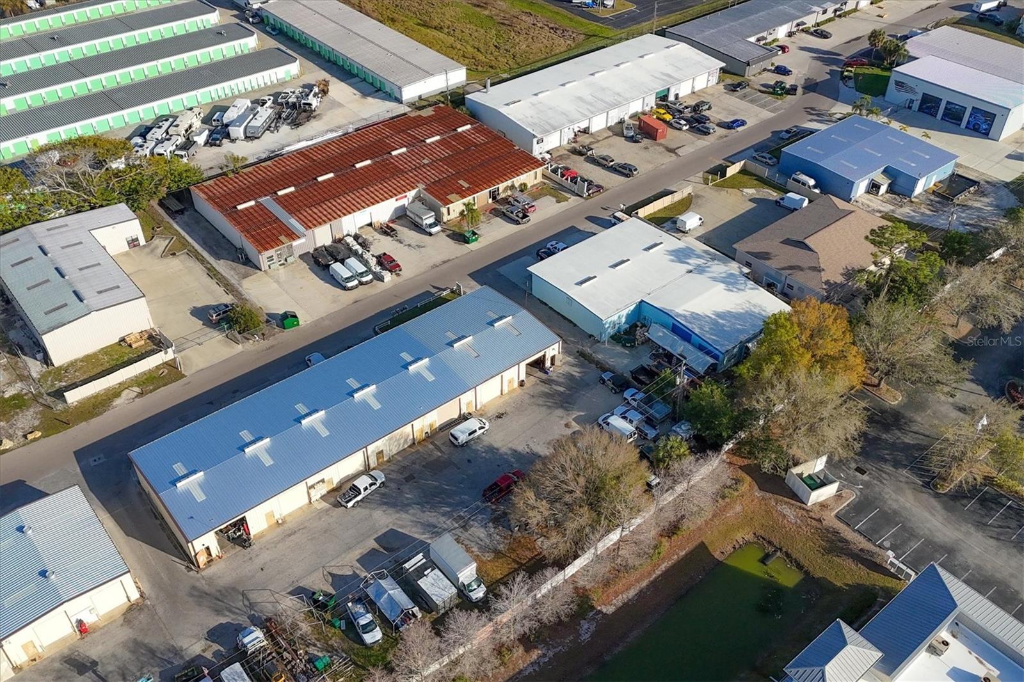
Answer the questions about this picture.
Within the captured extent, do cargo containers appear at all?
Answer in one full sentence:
Yes, the picture does show a cargo container.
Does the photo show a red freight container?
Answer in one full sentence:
Yes, the picture does show a red freight container.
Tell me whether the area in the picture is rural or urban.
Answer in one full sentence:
It looks urban.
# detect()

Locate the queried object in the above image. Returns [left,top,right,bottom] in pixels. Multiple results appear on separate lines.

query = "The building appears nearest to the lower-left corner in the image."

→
[0,483,136,669]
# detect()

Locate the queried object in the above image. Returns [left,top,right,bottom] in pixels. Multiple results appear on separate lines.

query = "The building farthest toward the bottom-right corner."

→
[777,561,1024,682]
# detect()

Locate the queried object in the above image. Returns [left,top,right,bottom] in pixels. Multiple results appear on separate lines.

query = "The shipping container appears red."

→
[638,114,668,141]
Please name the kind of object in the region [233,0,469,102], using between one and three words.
building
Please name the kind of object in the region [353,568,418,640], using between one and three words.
tent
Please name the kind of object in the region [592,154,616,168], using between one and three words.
car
